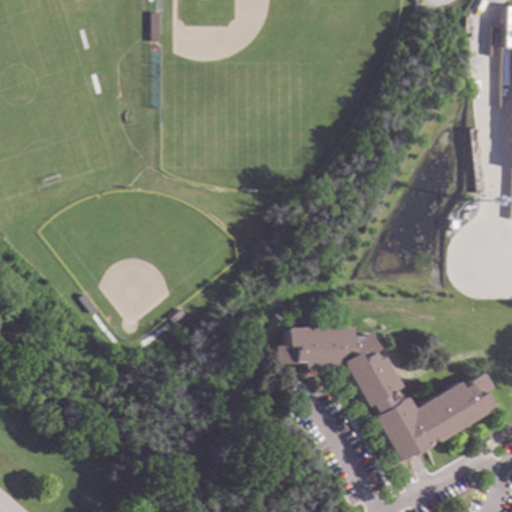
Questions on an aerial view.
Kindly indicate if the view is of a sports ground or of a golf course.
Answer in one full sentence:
This looks like a sports ground.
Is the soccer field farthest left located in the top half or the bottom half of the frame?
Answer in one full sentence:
The soccer field farthest left is in the top half of the image.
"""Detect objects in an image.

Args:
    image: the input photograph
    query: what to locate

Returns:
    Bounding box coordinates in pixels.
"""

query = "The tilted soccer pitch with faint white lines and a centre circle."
[0,0,112,200]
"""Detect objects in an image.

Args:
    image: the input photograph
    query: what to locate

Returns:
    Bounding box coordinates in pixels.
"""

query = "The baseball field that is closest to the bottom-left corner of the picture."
[42,190,236,339]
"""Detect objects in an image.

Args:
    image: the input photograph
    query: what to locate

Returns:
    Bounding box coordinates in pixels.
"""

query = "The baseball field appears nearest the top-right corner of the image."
[162,0,400,190]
